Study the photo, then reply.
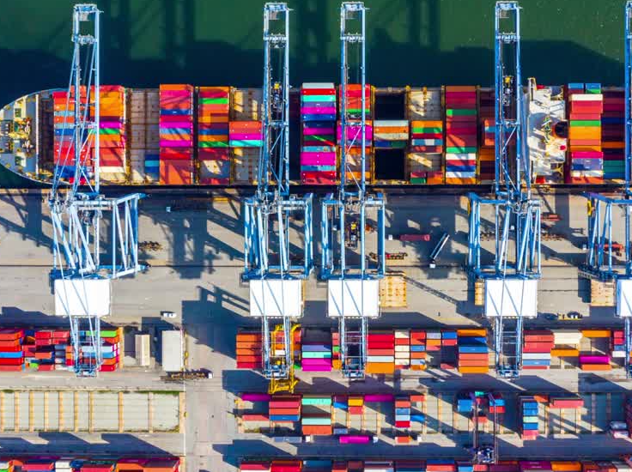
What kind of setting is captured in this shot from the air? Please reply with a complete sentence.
This looks like a port.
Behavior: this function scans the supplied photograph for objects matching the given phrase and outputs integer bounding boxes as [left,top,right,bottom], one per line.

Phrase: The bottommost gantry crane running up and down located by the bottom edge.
[464,390,499,470]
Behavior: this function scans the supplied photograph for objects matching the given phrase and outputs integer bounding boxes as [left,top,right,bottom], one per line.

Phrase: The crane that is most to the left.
[45,3,158,380]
